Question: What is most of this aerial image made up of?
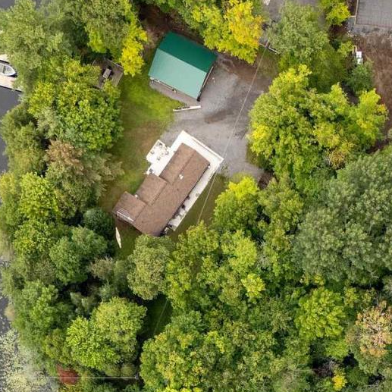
trees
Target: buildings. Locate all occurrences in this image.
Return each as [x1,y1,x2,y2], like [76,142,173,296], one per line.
[115,143,212,242]
[148,32,219,104]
